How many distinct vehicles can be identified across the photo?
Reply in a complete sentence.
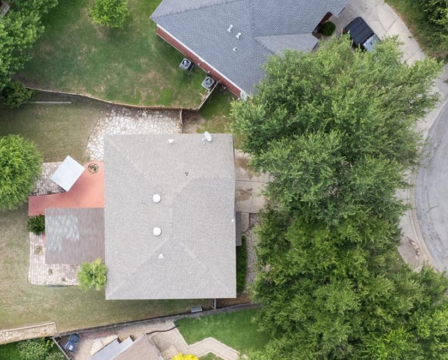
The picture shows 1 vehicle.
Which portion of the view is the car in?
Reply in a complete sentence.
The car is located in the top right region of the scene.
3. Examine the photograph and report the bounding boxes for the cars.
[335,2,384,56]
